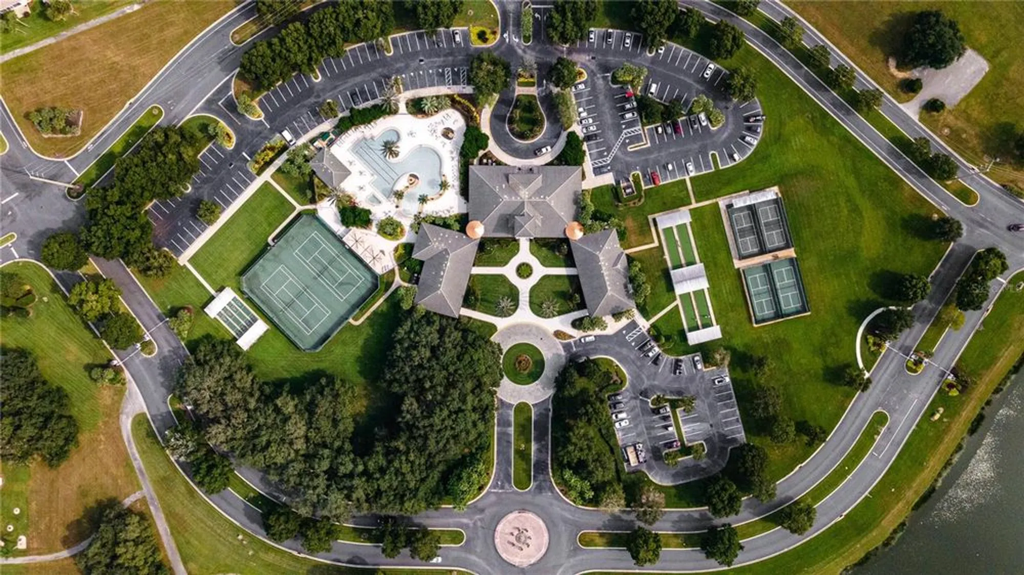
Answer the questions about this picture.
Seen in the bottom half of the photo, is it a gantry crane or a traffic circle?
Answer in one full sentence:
Looking in the bottom half of the photo, you will find a traffic circle.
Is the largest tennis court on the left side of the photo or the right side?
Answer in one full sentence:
The largest tennis court is on the left side of the image.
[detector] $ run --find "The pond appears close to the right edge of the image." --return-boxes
[839,352,1024,575]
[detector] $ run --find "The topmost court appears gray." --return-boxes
[720,186,795,260]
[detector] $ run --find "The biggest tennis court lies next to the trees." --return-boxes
[245,216,376,350]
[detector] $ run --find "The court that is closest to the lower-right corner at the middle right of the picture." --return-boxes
[739,256,810,326]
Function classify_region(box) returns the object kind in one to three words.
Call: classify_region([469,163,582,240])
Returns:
building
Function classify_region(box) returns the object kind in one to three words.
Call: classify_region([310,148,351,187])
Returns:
building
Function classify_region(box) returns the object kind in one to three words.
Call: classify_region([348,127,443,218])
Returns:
swimming pool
